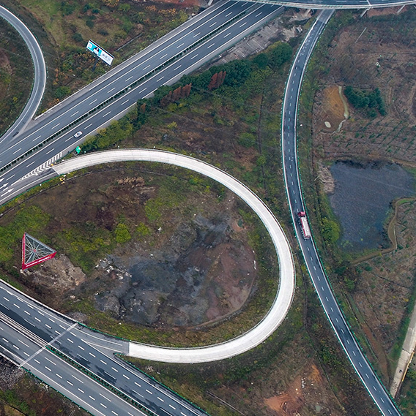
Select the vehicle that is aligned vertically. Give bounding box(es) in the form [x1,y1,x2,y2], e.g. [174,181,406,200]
[298,210,311,239]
